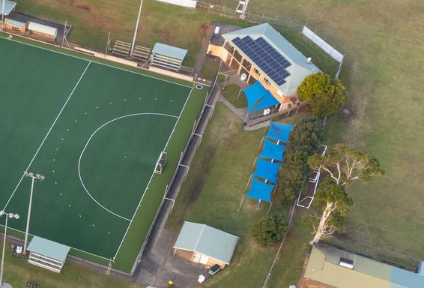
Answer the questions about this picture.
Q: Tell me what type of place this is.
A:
sports ground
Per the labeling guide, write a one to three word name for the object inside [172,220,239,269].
shed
